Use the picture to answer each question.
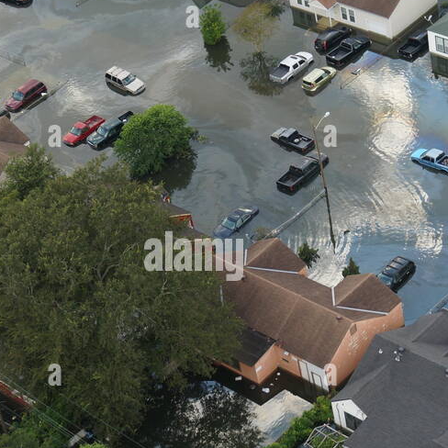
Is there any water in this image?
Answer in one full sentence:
Yes, some water is visible.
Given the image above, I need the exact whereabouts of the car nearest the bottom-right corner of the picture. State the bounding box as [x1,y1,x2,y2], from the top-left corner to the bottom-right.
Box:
[376,246,427,286]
